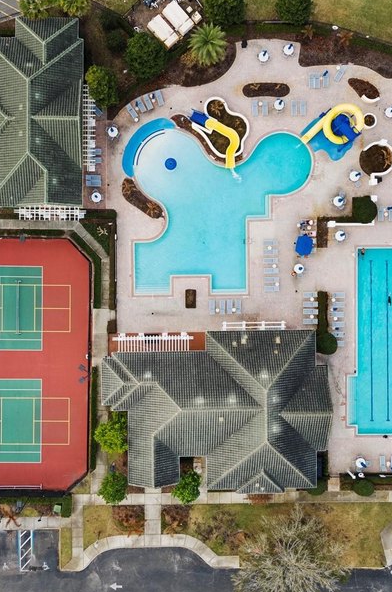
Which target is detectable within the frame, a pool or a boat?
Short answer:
pool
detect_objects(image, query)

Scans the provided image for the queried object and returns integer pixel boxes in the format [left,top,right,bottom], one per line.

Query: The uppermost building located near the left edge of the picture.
[0,17,84,207]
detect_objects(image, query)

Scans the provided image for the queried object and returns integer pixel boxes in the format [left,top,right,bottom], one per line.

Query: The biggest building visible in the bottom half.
[102,330,335,493]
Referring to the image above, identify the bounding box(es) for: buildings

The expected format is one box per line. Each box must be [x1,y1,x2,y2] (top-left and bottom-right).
[0,17,84,207]
[102,330,335,493]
